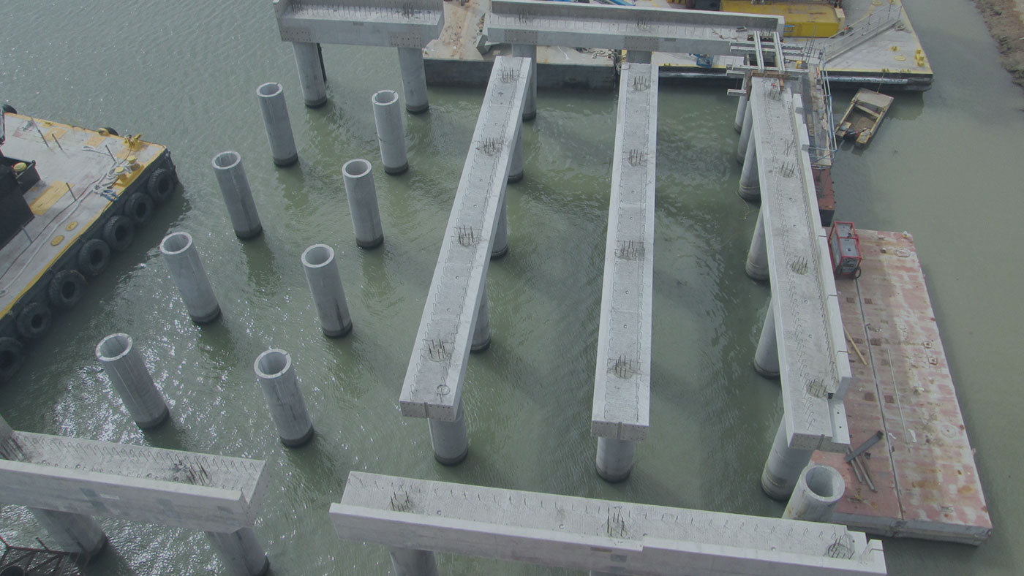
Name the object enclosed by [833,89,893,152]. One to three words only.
boat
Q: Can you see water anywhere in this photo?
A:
Yes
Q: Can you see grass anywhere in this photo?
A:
No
